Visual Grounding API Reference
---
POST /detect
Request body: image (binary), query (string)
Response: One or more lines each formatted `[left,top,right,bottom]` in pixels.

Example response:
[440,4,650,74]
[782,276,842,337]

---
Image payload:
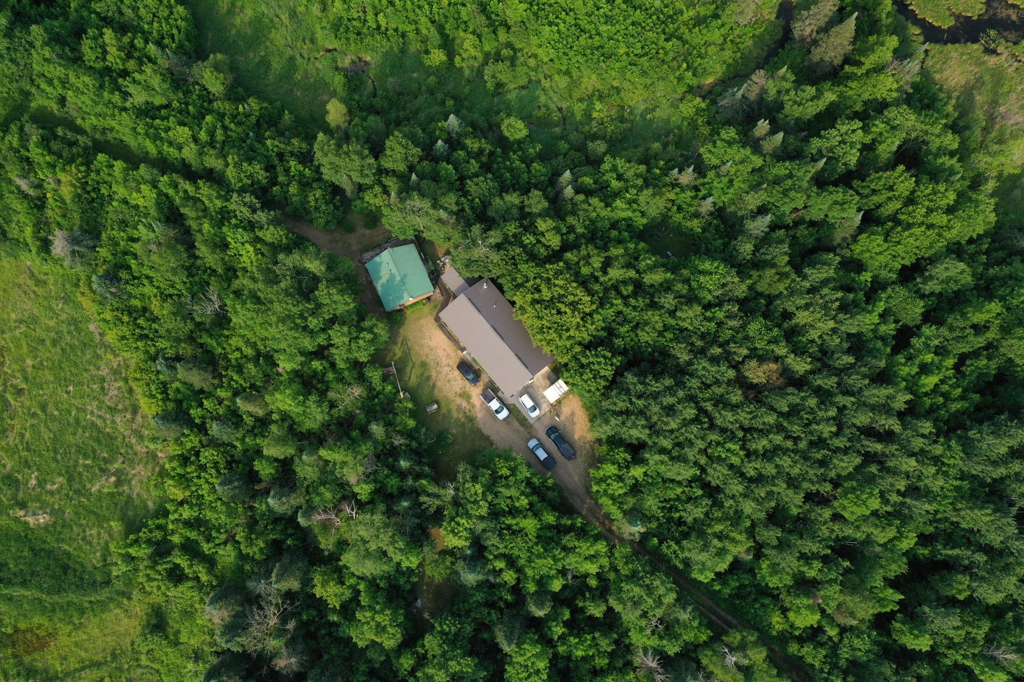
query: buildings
[365,244,434,311]
[439,277,557,399]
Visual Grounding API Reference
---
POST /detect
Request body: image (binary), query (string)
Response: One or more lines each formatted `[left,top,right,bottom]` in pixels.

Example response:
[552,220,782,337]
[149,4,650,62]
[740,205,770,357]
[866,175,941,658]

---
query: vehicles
[455,359,481,389]
[545,424,576,462]
[517,391,541,421]
[527,436,557,472]
[478,386,510,421]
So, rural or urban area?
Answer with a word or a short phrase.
rural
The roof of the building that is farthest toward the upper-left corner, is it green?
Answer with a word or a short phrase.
Yes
